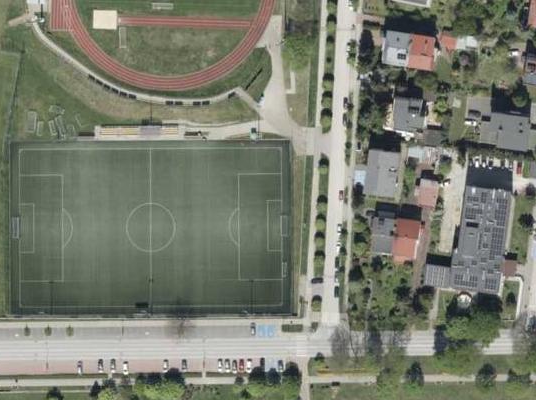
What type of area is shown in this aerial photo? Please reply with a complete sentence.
It's a sports ground.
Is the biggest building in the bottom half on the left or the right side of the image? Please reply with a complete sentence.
The biggest building in the bottom half sits on the right side.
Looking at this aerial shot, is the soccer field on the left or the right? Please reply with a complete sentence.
The soccer field sits on the left side.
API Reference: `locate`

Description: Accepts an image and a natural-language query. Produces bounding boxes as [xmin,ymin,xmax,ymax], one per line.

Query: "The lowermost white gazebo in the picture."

[456,291,473,304]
